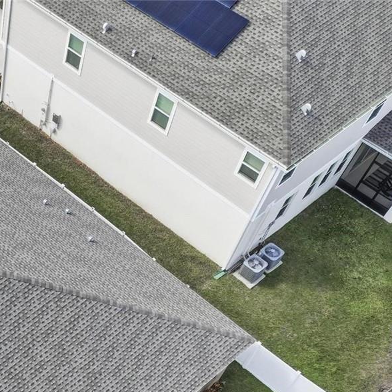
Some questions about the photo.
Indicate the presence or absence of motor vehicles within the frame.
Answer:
No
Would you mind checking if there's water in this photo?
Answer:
No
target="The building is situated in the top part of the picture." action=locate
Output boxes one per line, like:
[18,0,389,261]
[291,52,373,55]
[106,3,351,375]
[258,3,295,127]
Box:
[0,0,392,271]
